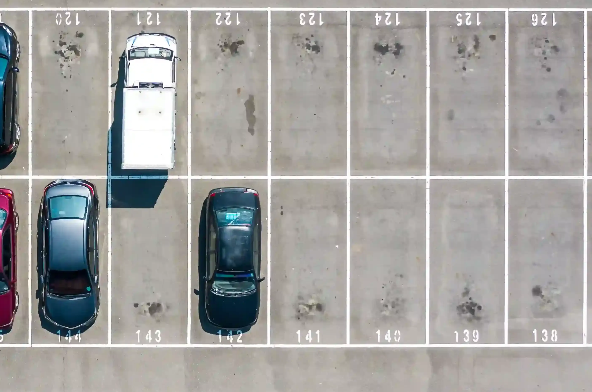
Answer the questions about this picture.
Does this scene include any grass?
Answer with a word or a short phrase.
No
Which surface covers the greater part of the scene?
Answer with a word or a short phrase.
paved ground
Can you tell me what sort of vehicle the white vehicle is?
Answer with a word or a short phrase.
truck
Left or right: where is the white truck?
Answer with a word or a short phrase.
left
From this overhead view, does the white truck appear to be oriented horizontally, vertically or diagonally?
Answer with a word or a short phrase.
vertically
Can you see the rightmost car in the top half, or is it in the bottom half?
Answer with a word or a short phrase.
bottom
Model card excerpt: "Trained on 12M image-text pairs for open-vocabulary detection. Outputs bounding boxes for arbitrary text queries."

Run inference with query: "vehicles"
[201,187,267,327]
[0,25,24,156]
[115,32,184,171]
[36,179,101,327]
[0,189,20,327]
